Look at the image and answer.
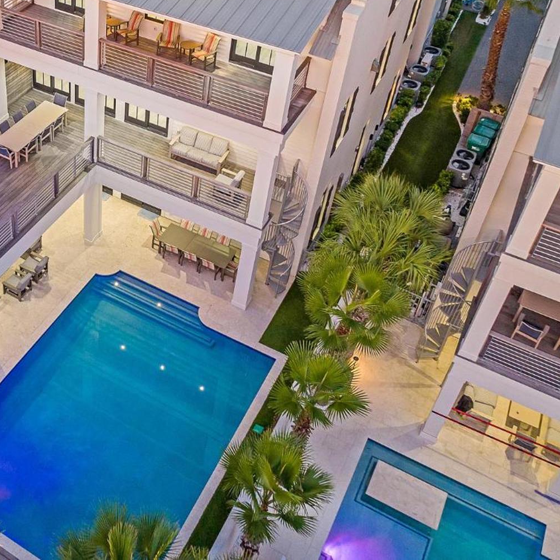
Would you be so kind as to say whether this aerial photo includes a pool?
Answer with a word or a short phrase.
Yes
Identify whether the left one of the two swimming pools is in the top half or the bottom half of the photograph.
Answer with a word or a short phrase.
bottom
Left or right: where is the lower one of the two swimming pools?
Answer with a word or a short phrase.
right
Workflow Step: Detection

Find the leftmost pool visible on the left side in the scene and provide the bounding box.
[0,272,288,560]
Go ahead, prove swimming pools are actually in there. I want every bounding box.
[317,436,557,560]
[0,272,288,560]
